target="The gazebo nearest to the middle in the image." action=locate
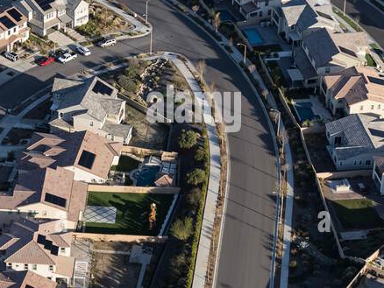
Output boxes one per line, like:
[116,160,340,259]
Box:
[151,173,176,193]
